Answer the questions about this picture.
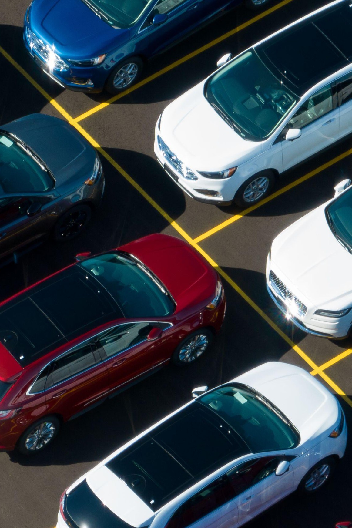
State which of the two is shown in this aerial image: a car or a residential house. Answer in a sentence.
Looking from above, you can make out a car.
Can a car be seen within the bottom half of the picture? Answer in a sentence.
Yes, there is a car within the bottom half of the picture.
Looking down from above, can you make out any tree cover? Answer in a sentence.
No, there's no tree cover in this view.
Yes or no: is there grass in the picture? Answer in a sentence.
No, there is no grass in the image.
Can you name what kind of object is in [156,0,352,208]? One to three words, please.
car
